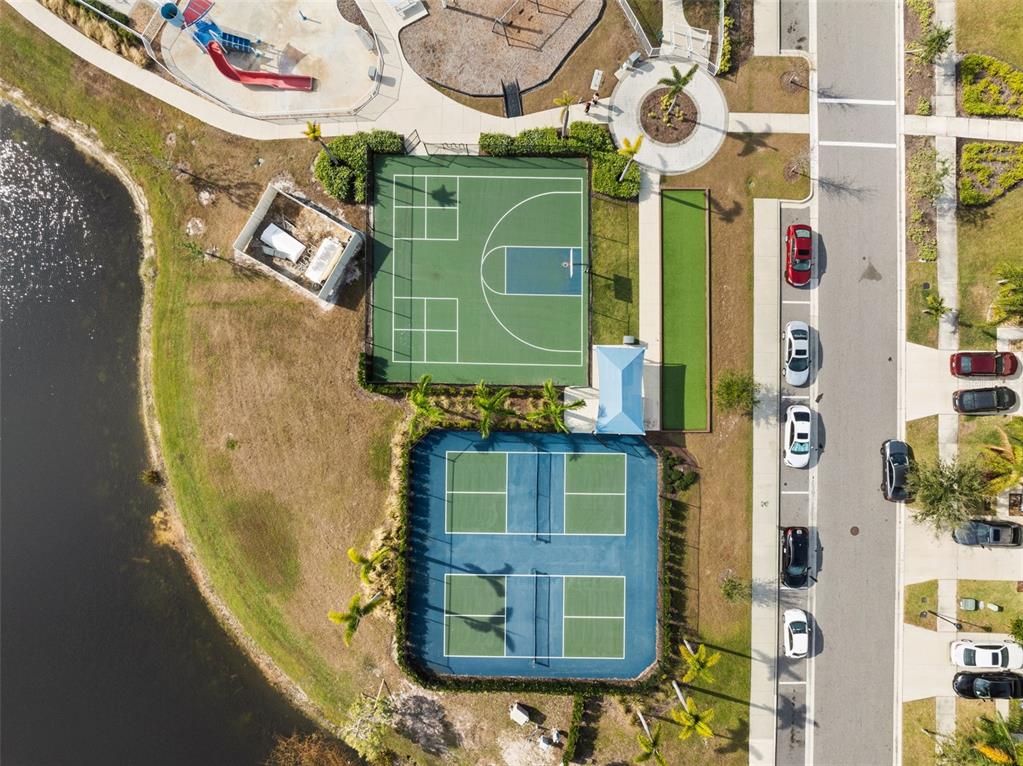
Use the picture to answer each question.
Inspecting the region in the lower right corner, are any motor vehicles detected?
Yes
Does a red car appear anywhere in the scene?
Yes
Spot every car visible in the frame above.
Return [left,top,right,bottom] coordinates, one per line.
[879,439,915,503]
[950,349,1017,380]
[781,606,812,659]
[951,667,1023,701]
[780,321,812,386]
[947,517,1023,548]
[783,223,815,288]
[780,526,813,588]
[950,636,1023,671]
[781,404,814,468]
[951,384,1017,414]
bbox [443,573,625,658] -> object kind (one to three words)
sports court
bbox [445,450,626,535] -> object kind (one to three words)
sports court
